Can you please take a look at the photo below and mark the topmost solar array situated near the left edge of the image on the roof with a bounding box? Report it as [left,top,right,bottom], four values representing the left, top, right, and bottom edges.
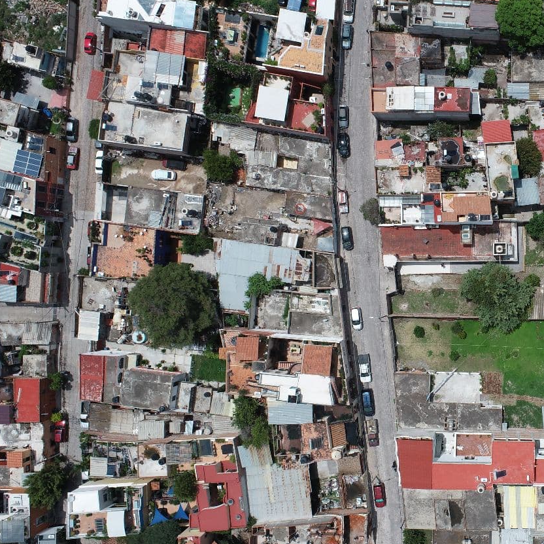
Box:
[13,149,43,178]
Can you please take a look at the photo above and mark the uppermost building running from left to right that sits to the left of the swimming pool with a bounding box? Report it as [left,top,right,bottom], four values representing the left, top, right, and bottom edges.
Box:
[96,0,213,35]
